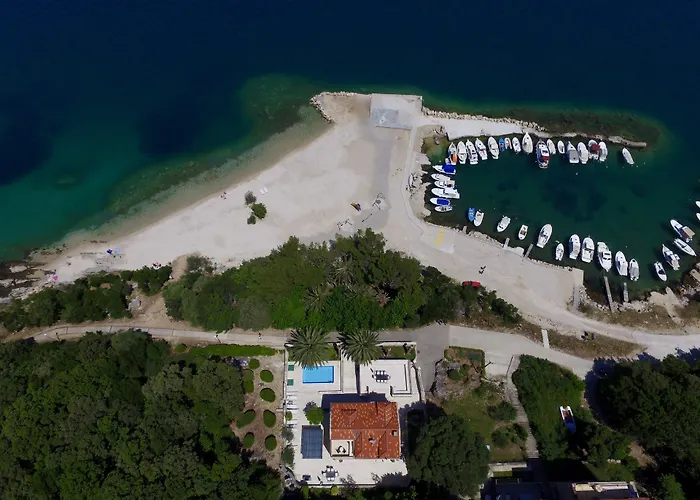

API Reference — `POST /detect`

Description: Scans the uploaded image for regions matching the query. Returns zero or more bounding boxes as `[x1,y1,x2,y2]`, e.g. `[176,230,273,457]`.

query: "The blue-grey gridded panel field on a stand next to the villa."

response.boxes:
[300,424,323,458]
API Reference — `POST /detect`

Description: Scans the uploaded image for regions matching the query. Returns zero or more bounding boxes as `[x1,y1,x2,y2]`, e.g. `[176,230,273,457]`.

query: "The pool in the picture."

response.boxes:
[301,365,336,385]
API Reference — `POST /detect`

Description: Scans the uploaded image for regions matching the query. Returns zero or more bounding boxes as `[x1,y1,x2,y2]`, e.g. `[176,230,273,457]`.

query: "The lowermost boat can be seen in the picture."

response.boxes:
[556,404,575,434]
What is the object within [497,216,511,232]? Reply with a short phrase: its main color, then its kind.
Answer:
white boat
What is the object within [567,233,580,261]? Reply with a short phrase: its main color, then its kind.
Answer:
white boat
